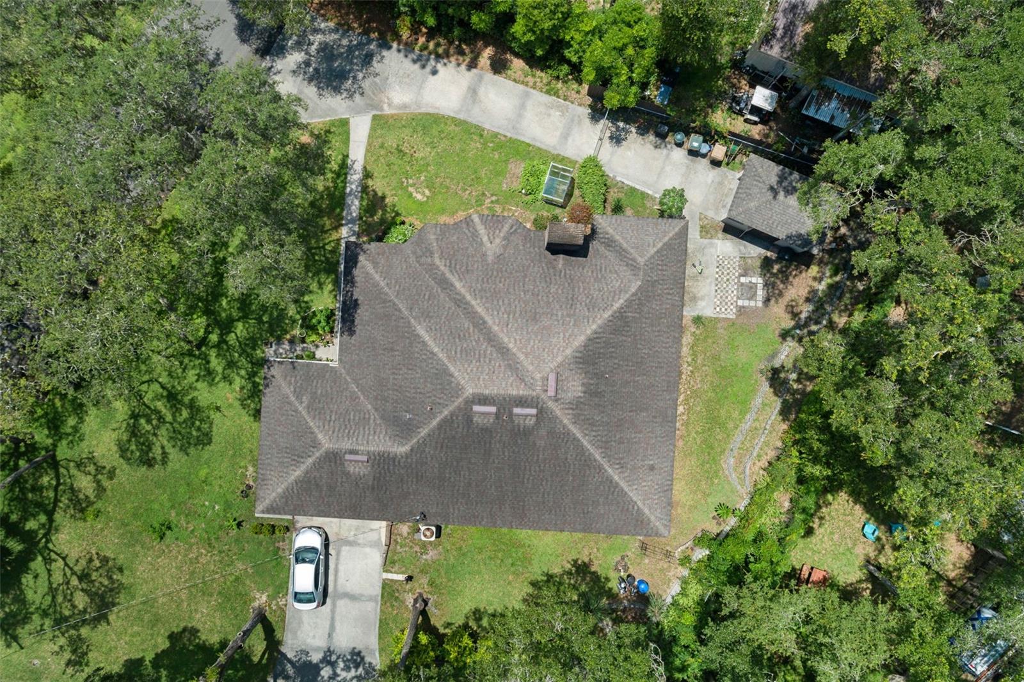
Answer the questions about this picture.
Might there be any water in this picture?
No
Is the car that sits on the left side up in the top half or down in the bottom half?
bottom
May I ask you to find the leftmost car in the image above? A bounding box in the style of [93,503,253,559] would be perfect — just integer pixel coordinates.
[288,524,329,611]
